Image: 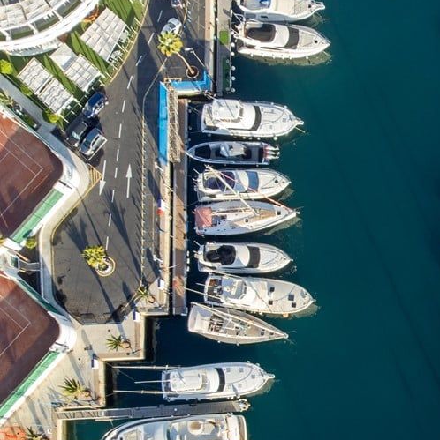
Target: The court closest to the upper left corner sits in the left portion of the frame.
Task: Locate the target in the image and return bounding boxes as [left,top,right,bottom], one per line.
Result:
[0,101,86,257]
